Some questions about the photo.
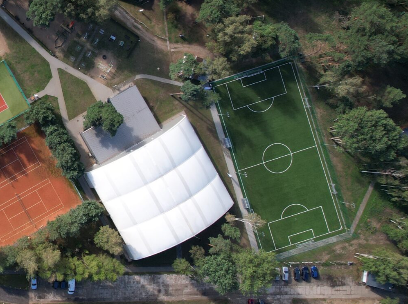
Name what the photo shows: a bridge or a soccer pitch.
soccer pitch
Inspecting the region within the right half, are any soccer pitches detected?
Yes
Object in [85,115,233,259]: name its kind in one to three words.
building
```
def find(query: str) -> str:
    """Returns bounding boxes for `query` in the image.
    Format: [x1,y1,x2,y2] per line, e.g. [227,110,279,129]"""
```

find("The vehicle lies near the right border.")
[356,268,392,292]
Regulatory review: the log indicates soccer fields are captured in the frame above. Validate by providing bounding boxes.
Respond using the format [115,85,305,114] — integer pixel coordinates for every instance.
[210,60,356,255]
